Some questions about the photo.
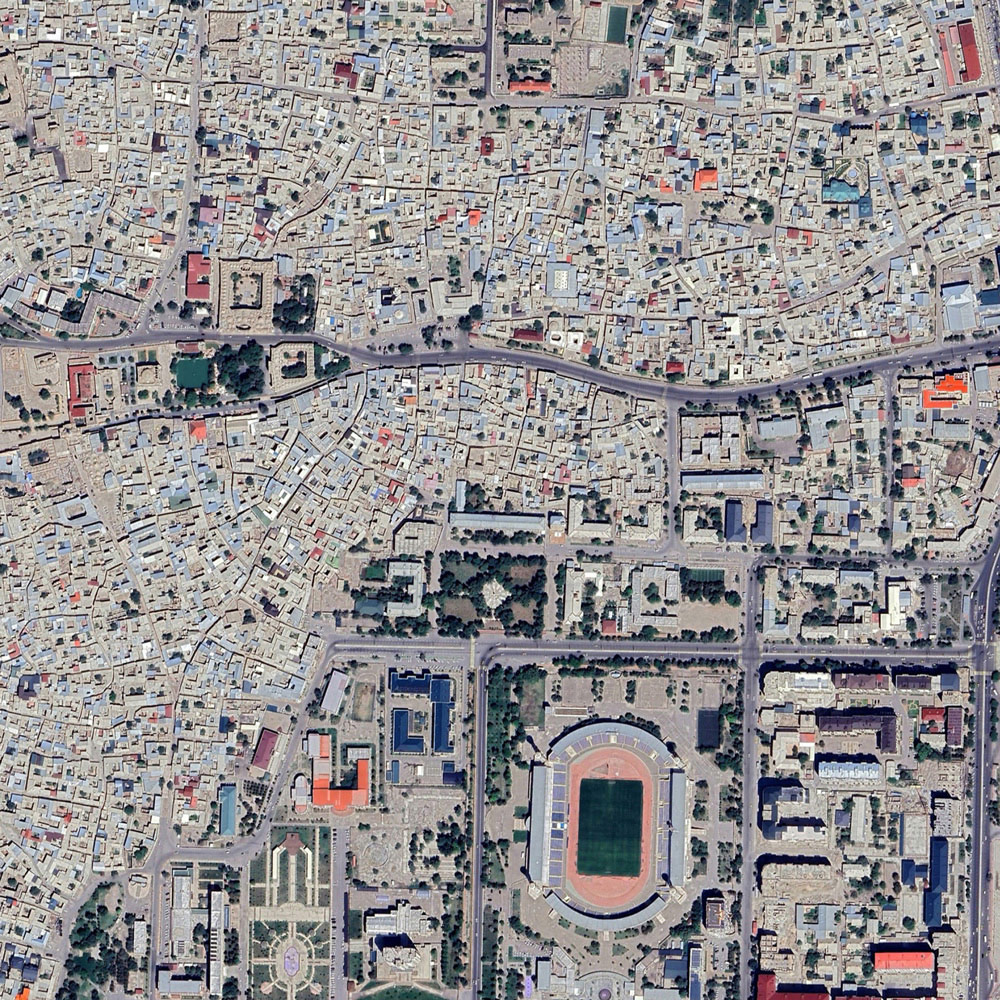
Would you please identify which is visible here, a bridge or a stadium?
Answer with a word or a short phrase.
stadium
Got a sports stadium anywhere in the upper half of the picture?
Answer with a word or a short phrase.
No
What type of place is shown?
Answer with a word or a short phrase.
residential area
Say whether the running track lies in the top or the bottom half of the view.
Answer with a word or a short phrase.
bottom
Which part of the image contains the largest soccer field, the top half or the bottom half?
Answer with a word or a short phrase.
bottom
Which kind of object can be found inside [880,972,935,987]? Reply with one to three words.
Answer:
house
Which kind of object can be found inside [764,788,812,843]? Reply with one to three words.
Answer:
building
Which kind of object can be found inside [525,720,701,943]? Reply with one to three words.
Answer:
stadium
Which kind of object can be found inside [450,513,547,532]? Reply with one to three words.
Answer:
building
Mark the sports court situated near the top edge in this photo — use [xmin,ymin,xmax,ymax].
[606,6,628,43]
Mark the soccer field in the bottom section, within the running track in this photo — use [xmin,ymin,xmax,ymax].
[578,779,643,876]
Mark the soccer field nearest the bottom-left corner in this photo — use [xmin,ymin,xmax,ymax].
[354,682,374,721]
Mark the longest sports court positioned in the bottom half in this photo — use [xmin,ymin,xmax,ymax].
[698,710,718,748]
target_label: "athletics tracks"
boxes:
[562,744,658,907]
